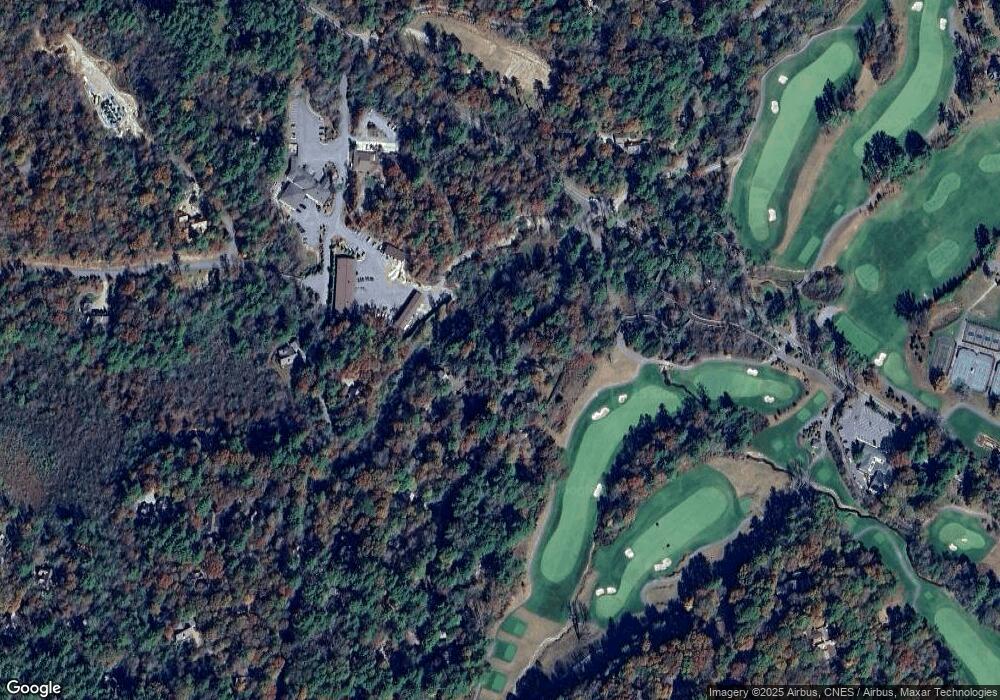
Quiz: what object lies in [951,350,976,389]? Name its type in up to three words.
tennis court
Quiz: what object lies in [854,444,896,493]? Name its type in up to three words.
building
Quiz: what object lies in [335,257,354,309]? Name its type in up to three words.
barn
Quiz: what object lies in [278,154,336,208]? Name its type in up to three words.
building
